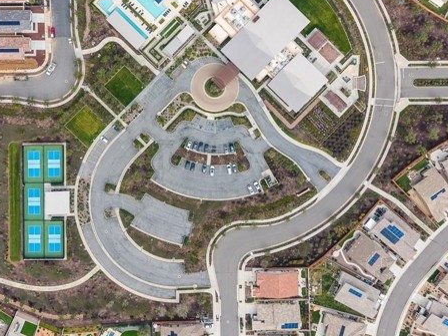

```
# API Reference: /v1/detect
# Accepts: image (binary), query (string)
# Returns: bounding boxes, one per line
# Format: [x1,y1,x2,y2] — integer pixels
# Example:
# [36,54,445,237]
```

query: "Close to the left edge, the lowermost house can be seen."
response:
[0,37,32,59]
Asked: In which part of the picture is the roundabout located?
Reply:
top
